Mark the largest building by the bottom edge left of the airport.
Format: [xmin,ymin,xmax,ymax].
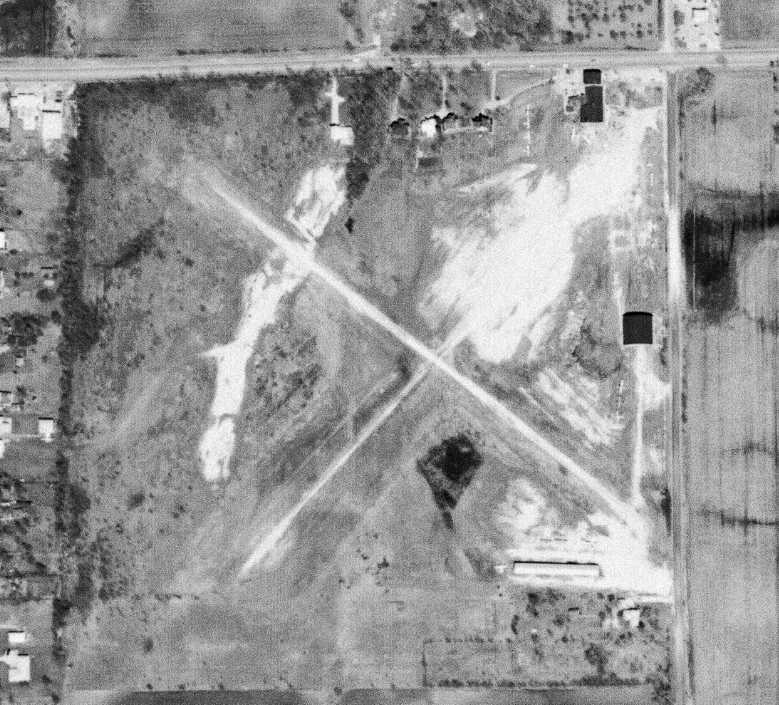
[8,650,30,683]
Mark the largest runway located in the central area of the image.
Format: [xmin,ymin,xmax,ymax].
[215,185,642,513]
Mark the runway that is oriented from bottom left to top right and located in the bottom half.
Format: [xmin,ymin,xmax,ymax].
[243,354,441,572]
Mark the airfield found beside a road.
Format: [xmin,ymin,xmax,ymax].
[58,69,673,691]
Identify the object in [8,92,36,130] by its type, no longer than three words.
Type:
building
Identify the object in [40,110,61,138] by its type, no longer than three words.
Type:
building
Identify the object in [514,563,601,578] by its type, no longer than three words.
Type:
hangar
